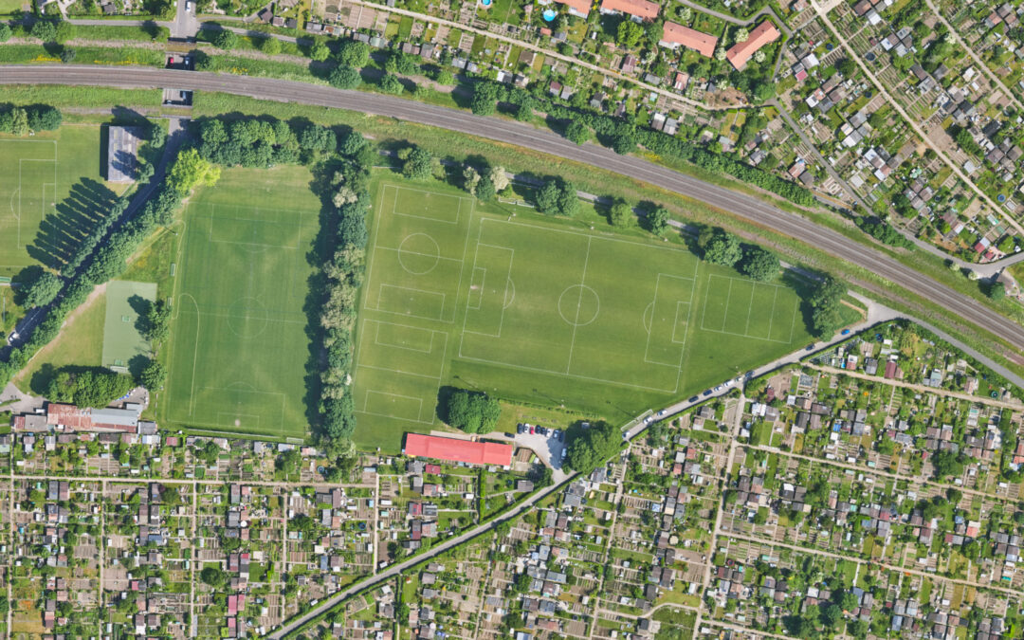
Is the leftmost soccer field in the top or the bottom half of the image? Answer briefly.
top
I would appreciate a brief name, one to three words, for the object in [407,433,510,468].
building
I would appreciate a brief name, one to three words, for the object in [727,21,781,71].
house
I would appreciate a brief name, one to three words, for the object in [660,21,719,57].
house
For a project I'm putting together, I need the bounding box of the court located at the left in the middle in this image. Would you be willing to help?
[102,280,158,371]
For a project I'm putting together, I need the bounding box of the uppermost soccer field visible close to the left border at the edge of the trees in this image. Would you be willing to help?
[0,138,59,270]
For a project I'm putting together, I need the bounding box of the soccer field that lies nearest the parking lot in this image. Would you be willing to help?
[352,318,448,425]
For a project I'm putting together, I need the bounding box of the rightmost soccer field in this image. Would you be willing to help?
[455,215,702,395]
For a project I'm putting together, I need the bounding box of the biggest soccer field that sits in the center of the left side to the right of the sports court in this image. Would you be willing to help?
[160,202,328,439]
